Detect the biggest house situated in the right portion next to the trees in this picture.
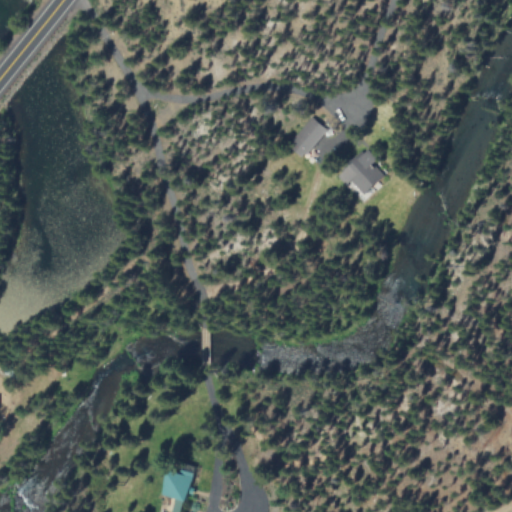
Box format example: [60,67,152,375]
[339,150,388,202]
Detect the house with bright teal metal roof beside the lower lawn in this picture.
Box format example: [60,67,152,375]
[161,464,196,512]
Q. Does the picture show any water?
Yes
